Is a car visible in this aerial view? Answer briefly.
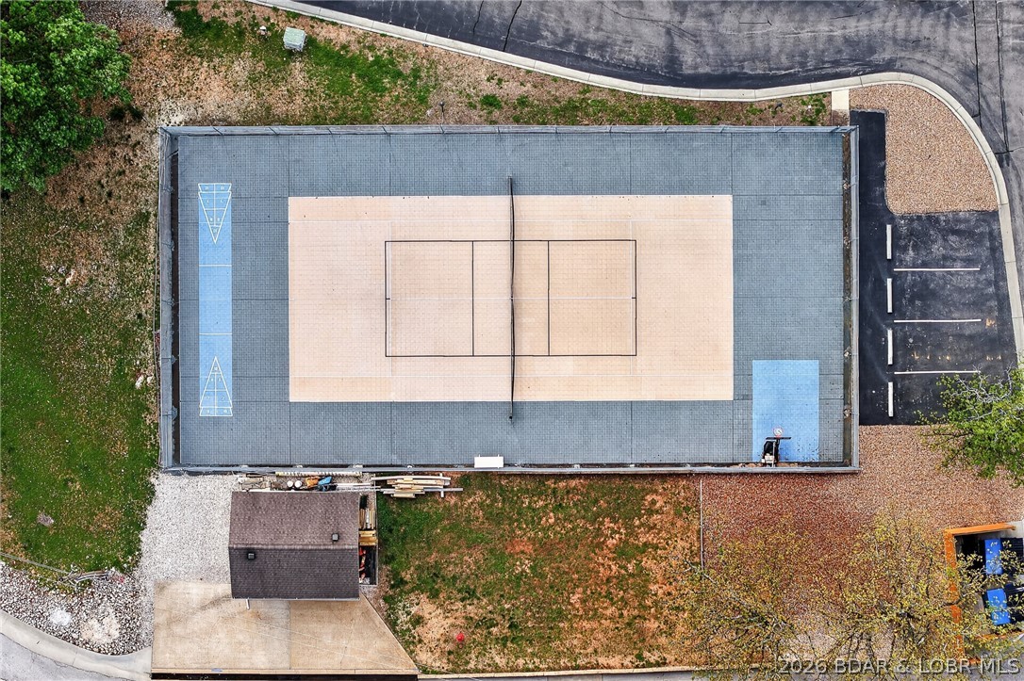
No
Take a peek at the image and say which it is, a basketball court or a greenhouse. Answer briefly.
basketball court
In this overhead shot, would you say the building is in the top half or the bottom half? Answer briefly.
bottom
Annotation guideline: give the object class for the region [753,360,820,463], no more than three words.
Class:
basketball court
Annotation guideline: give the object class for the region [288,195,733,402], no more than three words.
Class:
tennis court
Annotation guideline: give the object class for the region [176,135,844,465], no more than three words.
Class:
sports court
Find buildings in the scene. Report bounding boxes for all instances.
[228,488,361,600]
